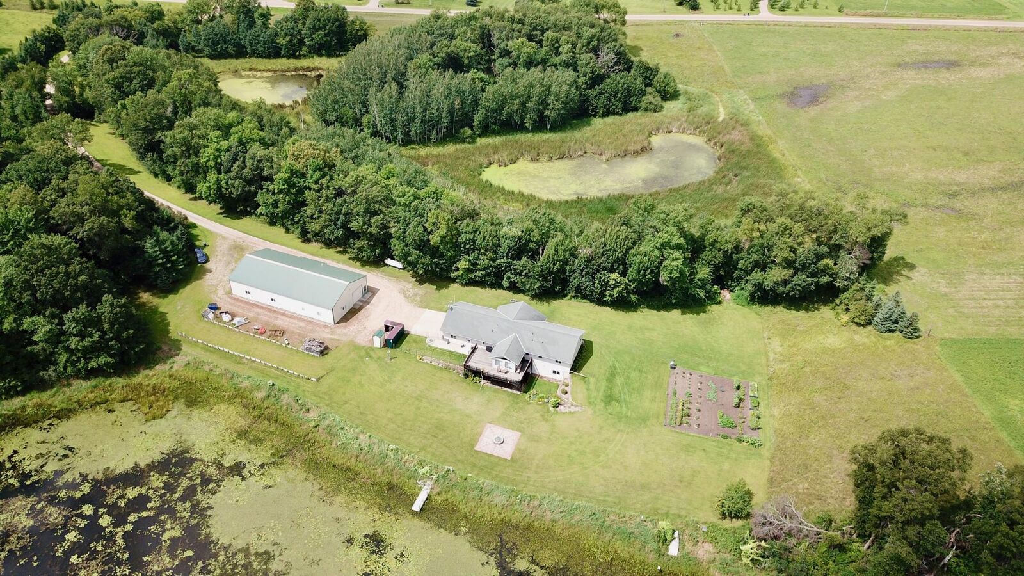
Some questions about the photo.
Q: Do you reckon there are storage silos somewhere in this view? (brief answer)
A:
No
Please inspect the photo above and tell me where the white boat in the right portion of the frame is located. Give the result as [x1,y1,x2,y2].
[668,530,680,557]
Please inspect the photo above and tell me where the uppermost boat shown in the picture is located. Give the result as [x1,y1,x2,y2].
[382,257,404,269]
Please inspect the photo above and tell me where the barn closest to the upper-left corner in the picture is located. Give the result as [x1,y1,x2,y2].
[229,249,373,322]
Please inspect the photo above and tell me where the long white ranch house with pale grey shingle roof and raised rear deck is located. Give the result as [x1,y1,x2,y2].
[440,294,585,391]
